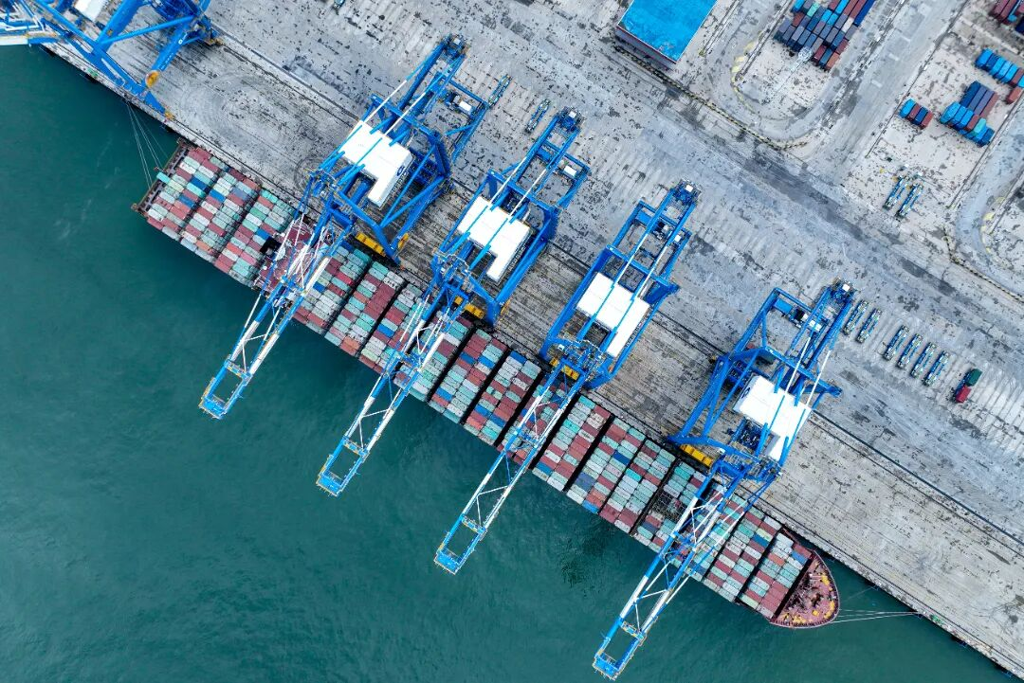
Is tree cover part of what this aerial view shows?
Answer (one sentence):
No, there's no tree cover in this view.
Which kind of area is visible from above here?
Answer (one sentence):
The area seen from above is a port.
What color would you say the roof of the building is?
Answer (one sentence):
The roof of the building is blue.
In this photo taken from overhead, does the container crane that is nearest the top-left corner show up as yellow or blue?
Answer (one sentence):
From above, the container crane that is nearest the top-left corner appears blue.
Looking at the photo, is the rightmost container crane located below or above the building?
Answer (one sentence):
The position of the rightmost container crane is below the building.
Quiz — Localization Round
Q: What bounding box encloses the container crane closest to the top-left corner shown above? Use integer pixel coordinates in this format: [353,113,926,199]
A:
[0,0,233,125]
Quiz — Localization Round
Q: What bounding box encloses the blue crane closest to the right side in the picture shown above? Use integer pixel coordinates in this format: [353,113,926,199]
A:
[594,276,866,683]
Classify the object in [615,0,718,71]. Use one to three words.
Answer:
building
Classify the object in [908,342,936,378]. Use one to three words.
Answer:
vehicle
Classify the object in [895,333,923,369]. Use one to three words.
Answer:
vehicle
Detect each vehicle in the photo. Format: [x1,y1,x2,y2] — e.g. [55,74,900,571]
[922,350,949,386]
[897,182,923,217]
[487,72,512,107]
[895,333,923,369]
[882,325,909,361]
[951,367,975,403]
[908,342,936,378]
[883,173,910,209]
[854,307,881,343]
[525,99,551,134]
[841,299,868,335]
